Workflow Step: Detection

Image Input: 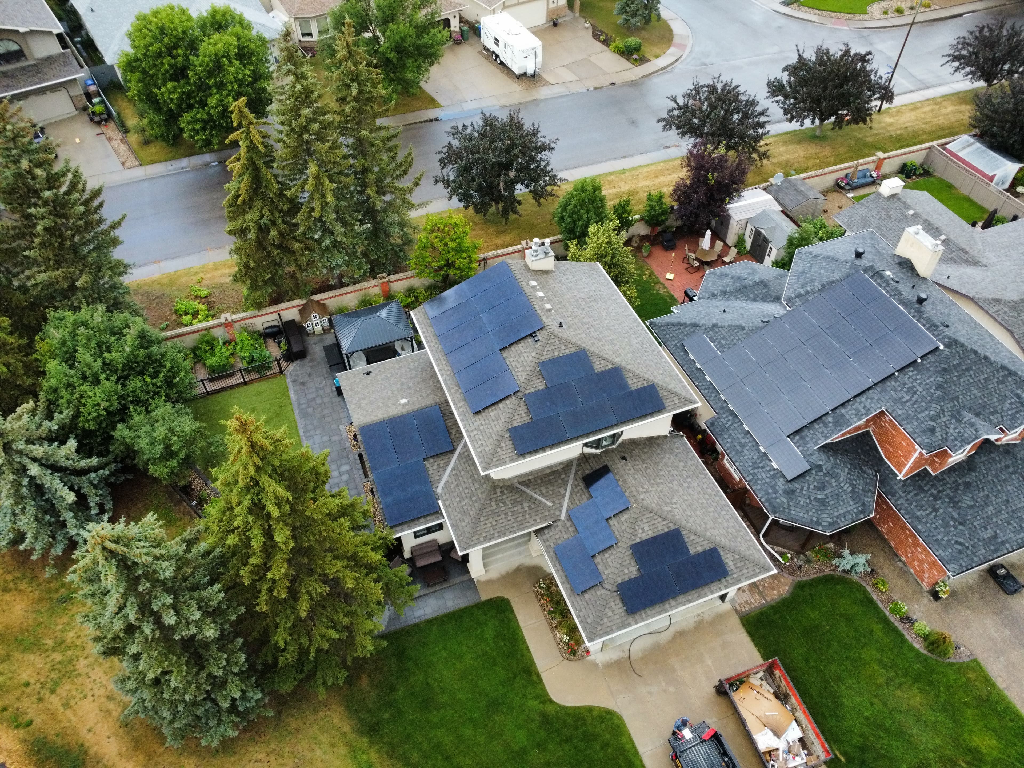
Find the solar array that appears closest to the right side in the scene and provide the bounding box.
[684,270,939,480]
